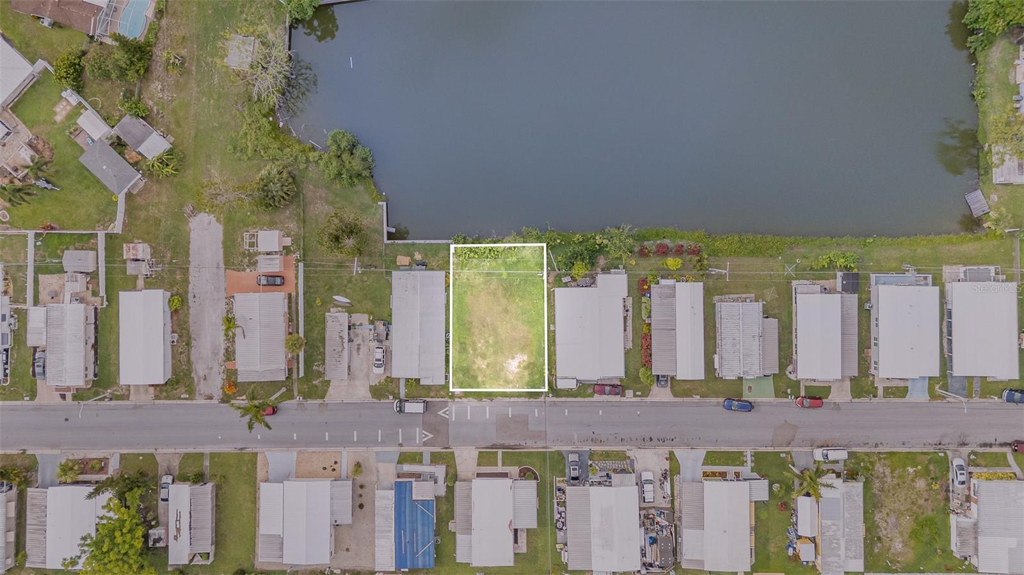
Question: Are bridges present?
No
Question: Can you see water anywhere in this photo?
Yes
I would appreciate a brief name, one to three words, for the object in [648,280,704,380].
house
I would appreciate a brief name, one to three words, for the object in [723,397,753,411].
car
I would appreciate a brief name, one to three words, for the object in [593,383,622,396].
vehicle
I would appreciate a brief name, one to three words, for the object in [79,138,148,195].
shed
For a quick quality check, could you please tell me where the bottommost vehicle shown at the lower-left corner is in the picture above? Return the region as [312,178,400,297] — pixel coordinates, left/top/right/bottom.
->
[158,474,174,502]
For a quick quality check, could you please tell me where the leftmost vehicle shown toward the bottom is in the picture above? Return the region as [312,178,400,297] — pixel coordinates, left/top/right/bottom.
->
[32,351,46,379]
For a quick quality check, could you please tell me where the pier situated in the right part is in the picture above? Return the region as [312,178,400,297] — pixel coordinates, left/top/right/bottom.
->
[963,190,990,217]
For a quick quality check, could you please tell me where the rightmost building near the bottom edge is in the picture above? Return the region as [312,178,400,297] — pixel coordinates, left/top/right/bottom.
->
[942,476,1024,573]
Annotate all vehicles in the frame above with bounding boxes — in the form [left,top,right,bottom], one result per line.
[158,474,174,502]
[656,375,669,391]
[256,273,285,287]
[394,399,428,414]
[723,397,753,411]
[567,452,581,483]
[593,383,622,396]
[32,351,46,379]
[1001,389,1024,403]
[640,470,654,504]
[1008,439,1024,453]
[812,447,847,462]
[372,345,386,375]
[950,457,966,487]
[795,395,823,409]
